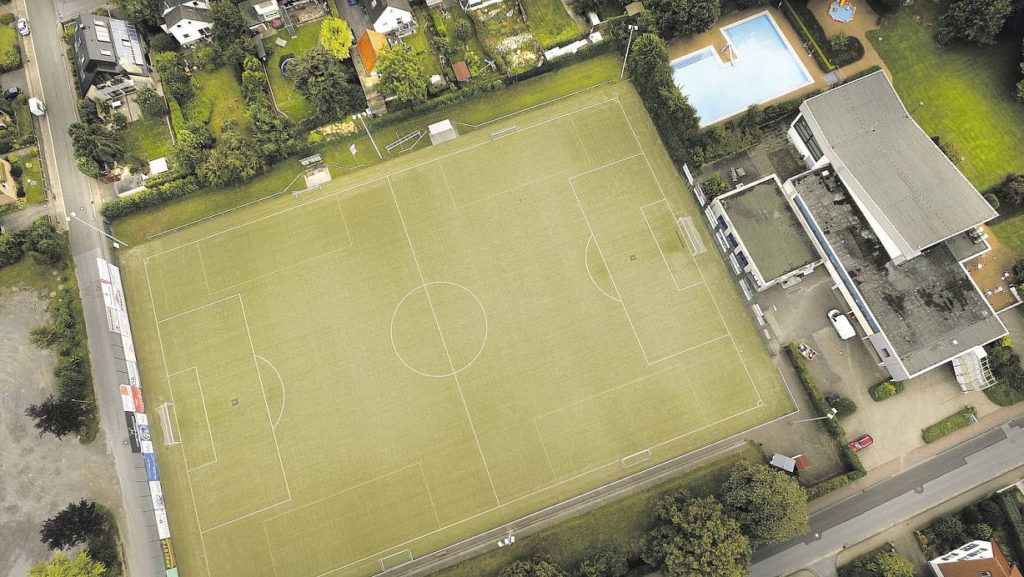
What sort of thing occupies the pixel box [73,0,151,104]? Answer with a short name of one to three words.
house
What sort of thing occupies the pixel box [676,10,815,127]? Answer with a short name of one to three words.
swimming pool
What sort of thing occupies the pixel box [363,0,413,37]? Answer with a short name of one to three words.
house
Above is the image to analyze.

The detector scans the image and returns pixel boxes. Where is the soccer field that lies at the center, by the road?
[118,77,796,577]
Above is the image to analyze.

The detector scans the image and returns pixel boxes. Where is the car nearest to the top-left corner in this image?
[16,17,30,35]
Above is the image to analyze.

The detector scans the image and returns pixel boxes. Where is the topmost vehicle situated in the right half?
[827,311,859,342]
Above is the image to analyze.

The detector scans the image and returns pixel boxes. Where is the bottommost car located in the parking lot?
[850,434,876,451]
